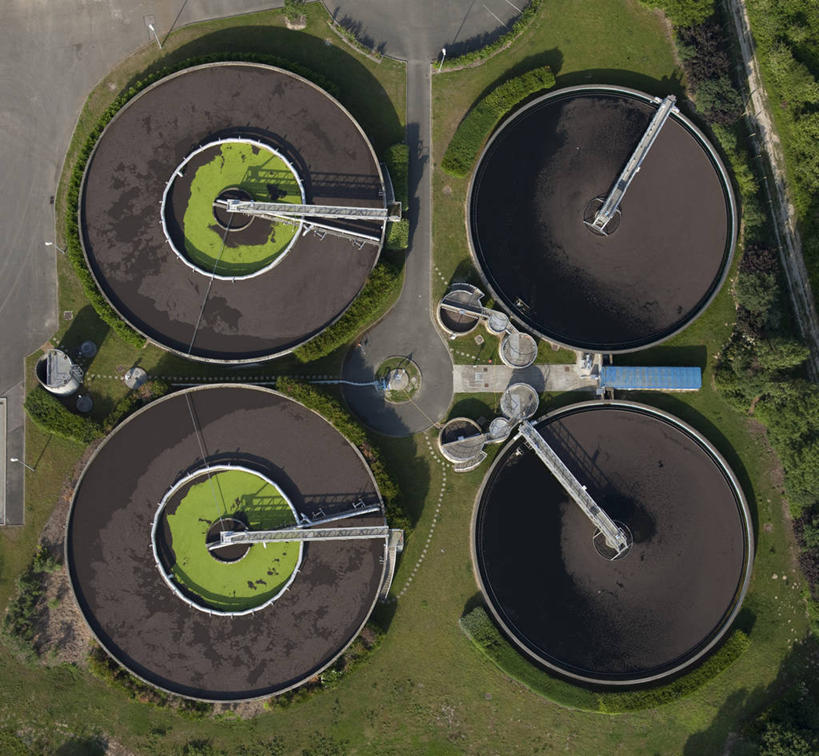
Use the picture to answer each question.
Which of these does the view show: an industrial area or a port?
industrial area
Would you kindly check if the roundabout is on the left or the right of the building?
to the left of it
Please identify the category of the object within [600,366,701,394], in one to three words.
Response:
building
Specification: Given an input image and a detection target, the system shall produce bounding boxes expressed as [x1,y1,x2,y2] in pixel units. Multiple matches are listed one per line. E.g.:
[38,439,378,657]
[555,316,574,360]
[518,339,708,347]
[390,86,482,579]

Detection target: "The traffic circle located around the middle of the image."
[341,252,454,437]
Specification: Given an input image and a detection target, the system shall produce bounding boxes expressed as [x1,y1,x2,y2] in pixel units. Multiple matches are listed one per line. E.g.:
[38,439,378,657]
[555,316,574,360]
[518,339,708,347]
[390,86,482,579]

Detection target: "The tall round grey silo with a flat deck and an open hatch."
[35,349,98,390]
